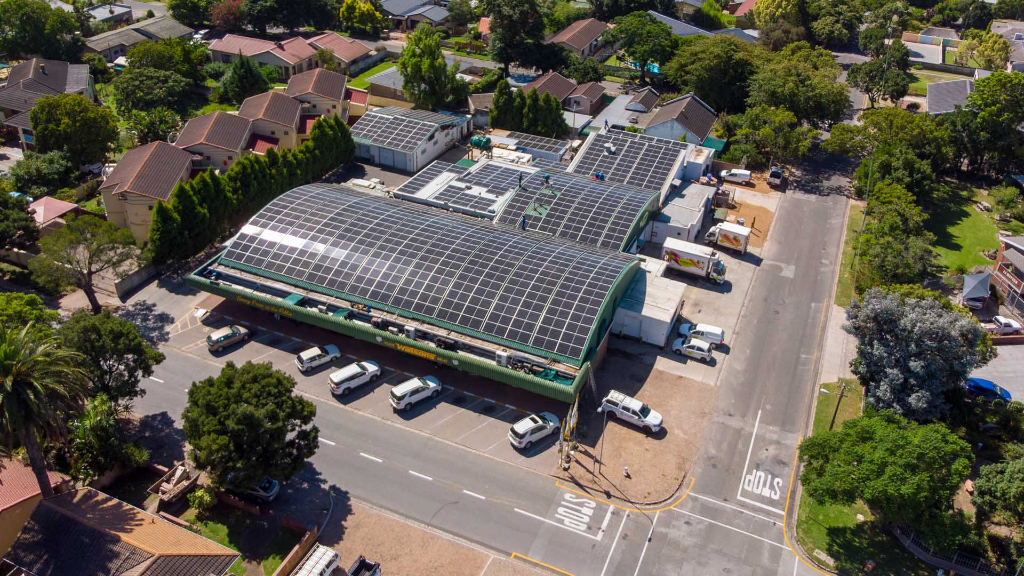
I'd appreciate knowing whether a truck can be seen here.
Yes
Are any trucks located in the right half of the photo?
Yes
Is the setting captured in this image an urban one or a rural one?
urban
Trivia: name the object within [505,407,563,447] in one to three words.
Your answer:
car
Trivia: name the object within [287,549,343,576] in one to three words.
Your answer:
vehicle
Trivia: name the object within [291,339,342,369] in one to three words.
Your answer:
car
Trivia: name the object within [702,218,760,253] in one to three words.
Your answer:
truck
